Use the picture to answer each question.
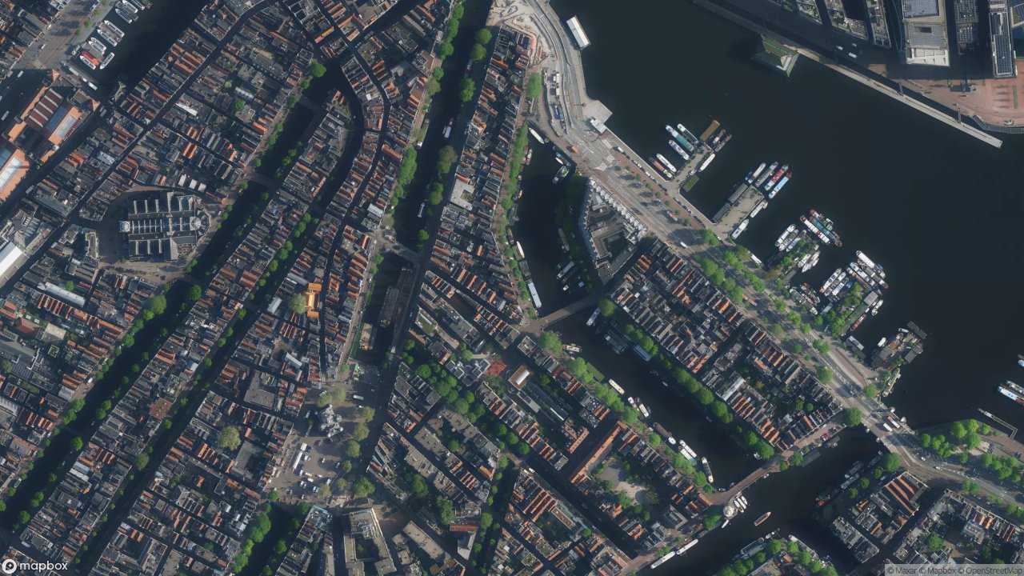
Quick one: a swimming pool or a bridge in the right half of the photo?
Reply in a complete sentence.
It is a bridge that can be seen in the right half of the photo.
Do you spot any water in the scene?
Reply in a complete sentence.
Yes, there is water in the image.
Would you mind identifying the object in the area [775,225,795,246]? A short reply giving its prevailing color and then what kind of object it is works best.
white vessel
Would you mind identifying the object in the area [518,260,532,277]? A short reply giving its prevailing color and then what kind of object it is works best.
gray boat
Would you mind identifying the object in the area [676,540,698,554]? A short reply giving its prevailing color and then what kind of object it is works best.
white boat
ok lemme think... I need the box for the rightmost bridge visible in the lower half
[866,399,913,453]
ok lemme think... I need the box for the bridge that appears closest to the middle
[520,292,607,334]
